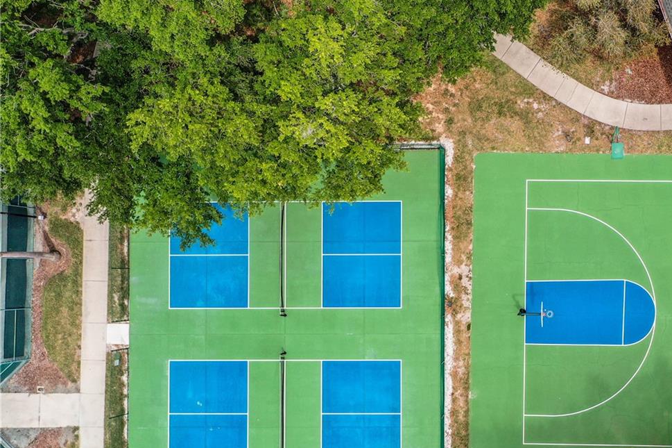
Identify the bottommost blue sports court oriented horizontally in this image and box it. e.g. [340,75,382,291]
[168,360,401,448]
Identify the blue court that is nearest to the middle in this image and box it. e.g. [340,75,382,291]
[169,201,402,308]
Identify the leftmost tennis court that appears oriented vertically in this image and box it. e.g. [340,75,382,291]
[0,128,31,379]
